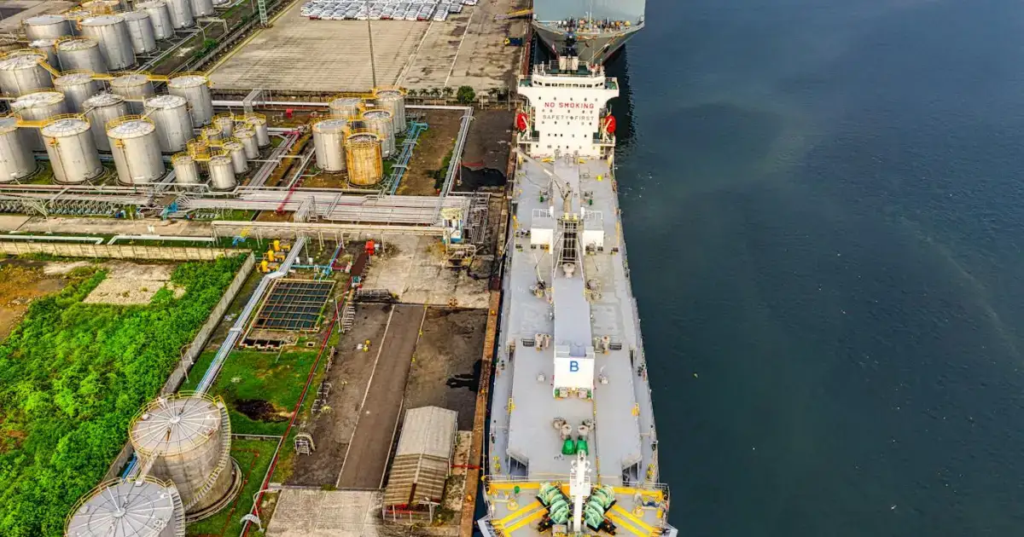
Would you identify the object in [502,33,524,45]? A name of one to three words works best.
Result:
vehicle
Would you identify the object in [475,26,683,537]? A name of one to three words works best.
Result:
ship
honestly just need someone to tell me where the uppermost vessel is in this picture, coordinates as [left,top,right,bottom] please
[517,0,646,109]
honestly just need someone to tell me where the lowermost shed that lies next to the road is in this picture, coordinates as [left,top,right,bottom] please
[382,405,457,527]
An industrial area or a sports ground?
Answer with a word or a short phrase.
industrial area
